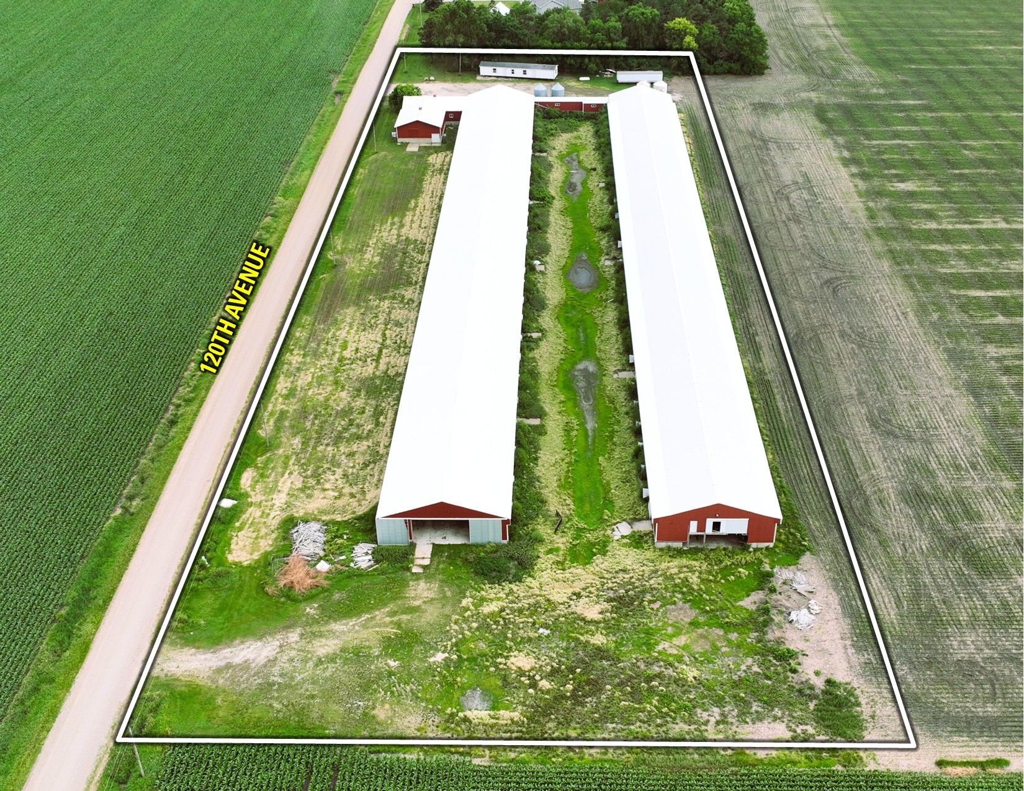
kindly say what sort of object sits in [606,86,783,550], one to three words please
barn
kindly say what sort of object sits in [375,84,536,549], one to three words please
barn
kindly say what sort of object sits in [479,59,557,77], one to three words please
house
